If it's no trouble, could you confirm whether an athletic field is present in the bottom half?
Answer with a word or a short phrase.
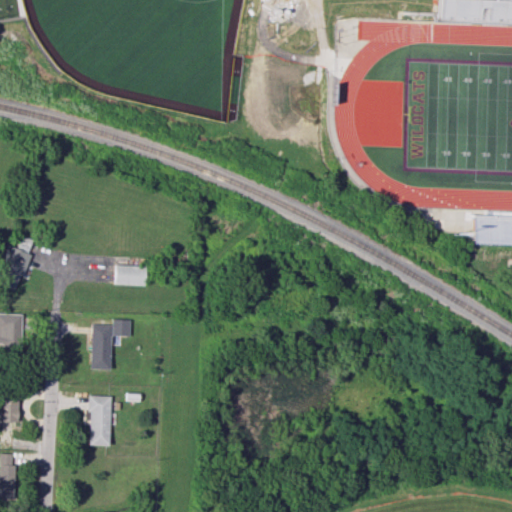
No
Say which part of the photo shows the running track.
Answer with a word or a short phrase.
top right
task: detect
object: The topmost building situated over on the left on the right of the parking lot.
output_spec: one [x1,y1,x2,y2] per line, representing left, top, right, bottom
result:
[114,264,147,288]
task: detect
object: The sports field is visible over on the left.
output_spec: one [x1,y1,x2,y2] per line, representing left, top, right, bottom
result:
[24,0,243,122]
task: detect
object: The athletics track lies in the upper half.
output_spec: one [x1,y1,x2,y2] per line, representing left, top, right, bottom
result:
[334,22,512,209]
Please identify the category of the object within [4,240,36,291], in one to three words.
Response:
house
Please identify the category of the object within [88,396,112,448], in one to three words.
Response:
house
